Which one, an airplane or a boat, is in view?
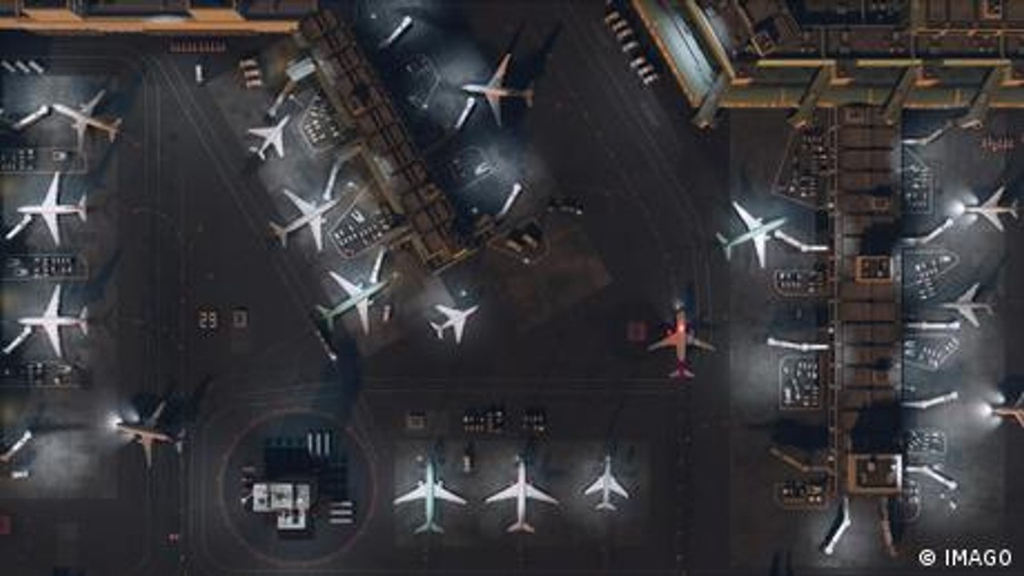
airplane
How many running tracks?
zero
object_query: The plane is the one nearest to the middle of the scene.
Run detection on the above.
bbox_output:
[427,298,480,342]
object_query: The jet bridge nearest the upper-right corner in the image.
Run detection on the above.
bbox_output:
[902,124,948,145]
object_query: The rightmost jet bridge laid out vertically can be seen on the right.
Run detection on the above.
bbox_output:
[882,496,896,556]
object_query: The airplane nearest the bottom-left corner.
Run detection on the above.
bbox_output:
[116,401,188,466]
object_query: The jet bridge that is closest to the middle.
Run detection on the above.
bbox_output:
[494,183,522,217]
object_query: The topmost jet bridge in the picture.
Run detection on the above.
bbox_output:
[369,15,413,54]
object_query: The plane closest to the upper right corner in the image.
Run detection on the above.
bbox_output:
[967,187,1023,232]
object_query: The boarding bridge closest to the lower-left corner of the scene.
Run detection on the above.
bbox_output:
[0,431,35,461]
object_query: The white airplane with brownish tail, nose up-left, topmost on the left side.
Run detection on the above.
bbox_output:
[51,84,123,144]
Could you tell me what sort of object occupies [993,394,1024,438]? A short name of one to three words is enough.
airplane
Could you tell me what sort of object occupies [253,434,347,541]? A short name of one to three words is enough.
building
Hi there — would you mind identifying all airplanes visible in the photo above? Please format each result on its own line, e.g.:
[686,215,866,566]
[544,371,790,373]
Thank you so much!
[484,462,559,536]
[392,462,466,537]
[584,457,630,519]
[311,267,391,333]
[427,298,480,342]
[116,401,188,466]
[16,172,85,246]
[715,201,786,266]
[967,187,1023,232]
[993,394,1024,438]
[16,285,86,359]
[261,185,337,249]
[248,114,289,162]
[648,309,716,379]
[944,285,997,329]
[51,84,123,144]
[462,53,536,126]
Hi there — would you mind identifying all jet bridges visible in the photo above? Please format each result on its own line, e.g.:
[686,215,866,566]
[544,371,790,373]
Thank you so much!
[266,82,295,119]
[902,218,954,244]
[320,150,359,201]
[4,214,36,241]
[0,431,35,461]
[0,107,5,119]
[903,465,957,490]
[902,391,959,408]
[2,327,35,355]
[882,496,896,556]
[494,183,522,217]
[369,15,413,54]
[442,95,477,141]
[766,334,826,349]
[768,446,826,472]
[13,105,51,129]
[822,496,851,555]
[367,239,394,284]
[773,228,826,251]
[902,124,948,145]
